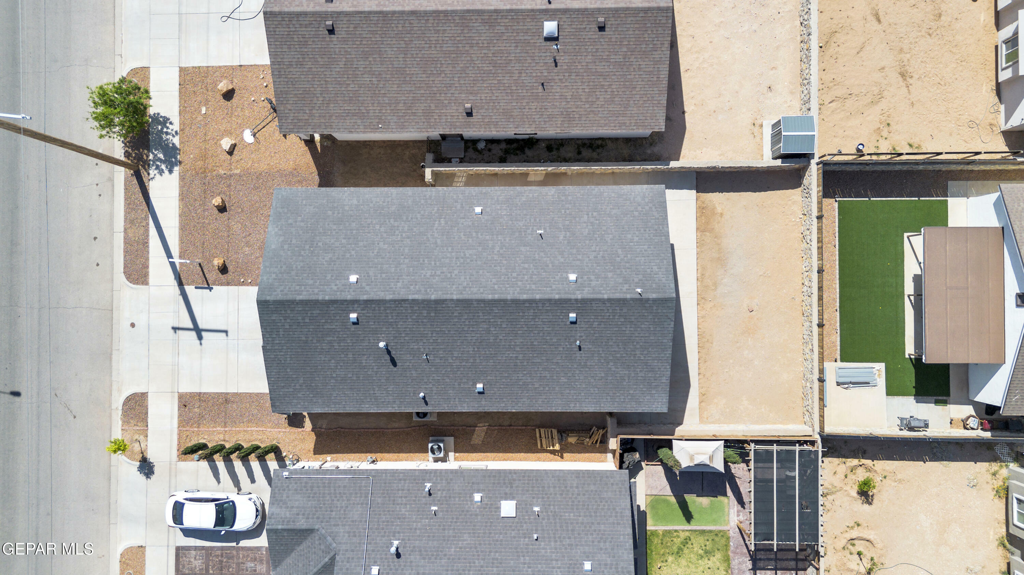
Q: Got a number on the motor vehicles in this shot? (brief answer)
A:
1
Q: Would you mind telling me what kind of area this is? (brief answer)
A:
residential area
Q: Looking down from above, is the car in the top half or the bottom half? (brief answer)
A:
bottom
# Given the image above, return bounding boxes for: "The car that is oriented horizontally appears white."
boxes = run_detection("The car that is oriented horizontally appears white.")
[164,489,264,536]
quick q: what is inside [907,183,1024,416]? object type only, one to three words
house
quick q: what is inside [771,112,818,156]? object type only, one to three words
shed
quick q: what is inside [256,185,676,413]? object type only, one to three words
house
